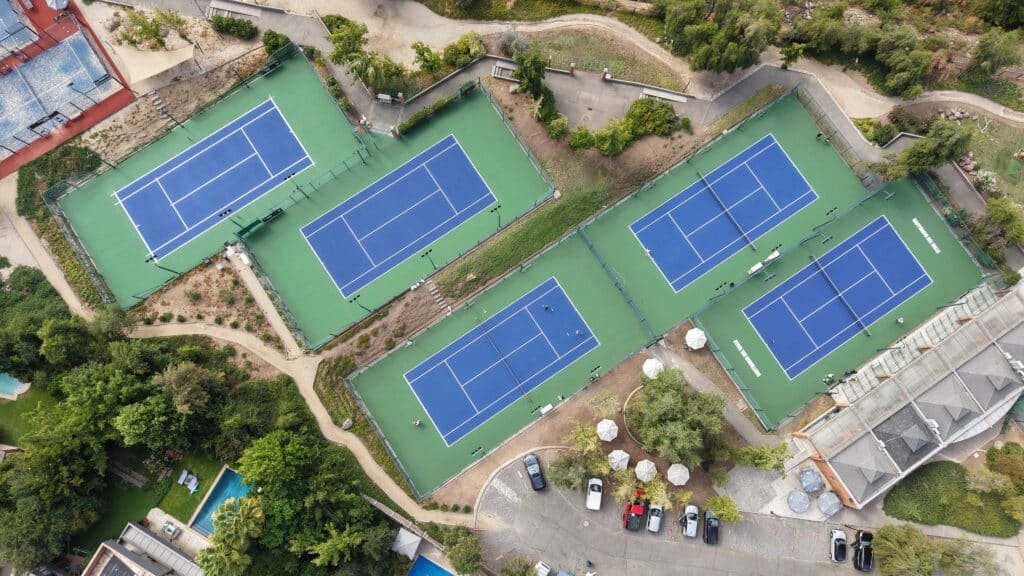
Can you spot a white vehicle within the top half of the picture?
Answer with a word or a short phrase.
No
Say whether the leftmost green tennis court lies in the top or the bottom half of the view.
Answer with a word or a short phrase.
top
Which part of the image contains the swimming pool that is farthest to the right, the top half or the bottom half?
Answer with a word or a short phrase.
bottom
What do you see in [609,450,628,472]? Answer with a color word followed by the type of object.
white umbrella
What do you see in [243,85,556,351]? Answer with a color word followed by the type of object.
green tennis court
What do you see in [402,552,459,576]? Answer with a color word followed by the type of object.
blue swimming pool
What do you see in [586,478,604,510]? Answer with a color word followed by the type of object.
white car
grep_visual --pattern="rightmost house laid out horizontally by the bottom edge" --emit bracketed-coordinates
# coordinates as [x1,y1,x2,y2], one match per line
[81,541,168,576]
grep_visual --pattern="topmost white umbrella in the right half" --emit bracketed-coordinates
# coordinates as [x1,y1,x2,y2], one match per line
[685,328,707,350]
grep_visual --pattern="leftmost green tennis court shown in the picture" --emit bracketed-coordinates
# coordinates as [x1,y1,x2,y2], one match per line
[55,49,367,310]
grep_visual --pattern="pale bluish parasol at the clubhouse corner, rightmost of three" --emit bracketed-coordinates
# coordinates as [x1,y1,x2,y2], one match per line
[816,494,839,516]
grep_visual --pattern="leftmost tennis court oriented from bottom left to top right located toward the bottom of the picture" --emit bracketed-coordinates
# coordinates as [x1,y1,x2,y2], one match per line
[349,231,657,500]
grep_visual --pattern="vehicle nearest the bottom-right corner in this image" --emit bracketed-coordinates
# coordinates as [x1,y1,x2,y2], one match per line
[849,530,874,571]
